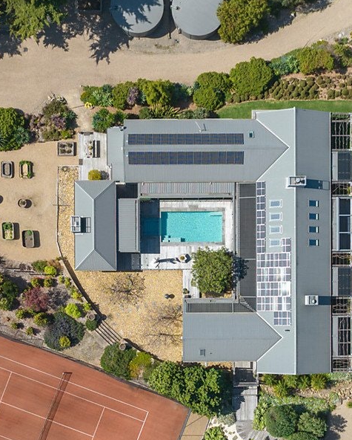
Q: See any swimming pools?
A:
Yes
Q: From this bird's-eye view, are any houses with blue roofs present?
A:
No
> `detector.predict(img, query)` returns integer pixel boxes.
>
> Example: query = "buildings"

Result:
[71,180,140,272]
[108,104,332,387]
